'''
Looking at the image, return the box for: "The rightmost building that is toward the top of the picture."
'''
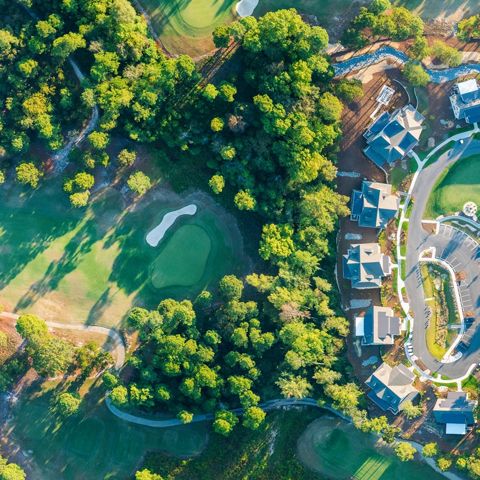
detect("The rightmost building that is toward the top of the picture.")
[451,79,480,122]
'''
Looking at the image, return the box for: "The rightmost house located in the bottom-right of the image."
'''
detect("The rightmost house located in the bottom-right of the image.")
[436,389,477,433]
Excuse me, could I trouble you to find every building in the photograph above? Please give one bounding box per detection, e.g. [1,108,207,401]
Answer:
[366,361,421,413]
[451,79,480,122]
[436,389,477,433]
[350,182,400,229]
[341,243,391,289]
[357,306,400,346]
[362,106,427,166]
